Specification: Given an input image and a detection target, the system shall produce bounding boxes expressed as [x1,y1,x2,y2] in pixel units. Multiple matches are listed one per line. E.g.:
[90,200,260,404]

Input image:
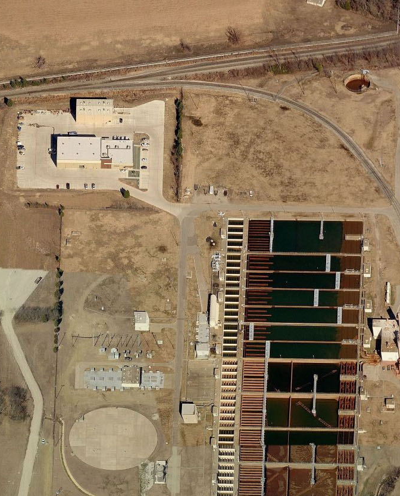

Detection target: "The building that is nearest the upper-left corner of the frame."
[76,99,113,124]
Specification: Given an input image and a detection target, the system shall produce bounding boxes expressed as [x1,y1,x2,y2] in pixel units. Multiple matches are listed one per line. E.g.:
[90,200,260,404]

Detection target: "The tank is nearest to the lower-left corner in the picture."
[69,407,158,471]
